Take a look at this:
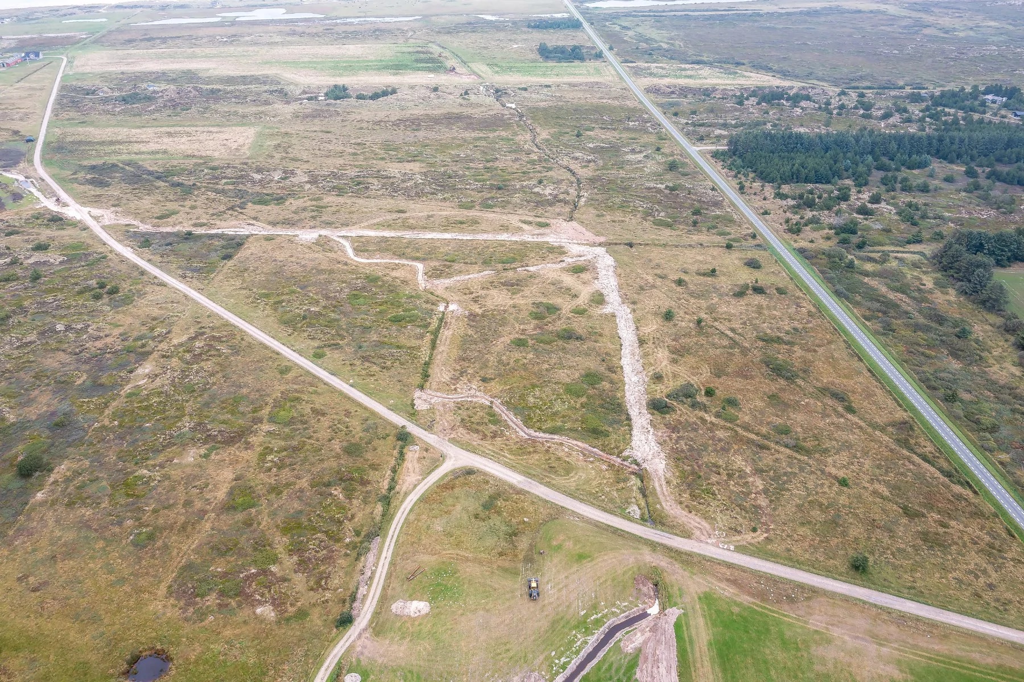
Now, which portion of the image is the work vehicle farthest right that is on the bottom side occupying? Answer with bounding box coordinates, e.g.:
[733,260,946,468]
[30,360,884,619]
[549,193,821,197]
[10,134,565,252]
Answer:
[527,578,539,599]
